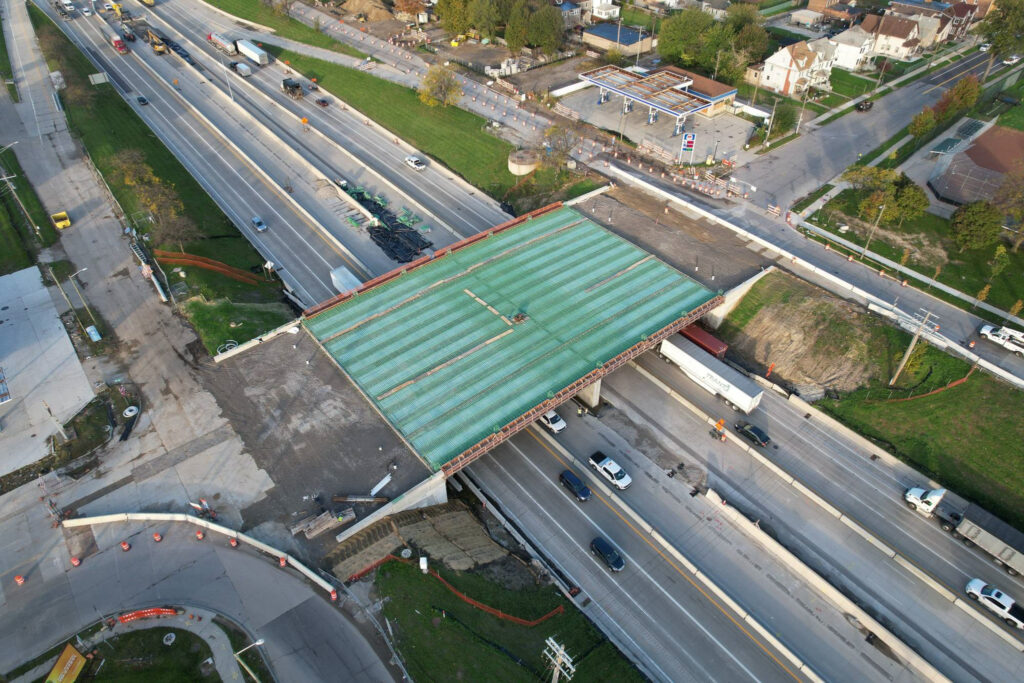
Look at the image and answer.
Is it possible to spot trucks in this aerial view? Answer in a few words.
Yes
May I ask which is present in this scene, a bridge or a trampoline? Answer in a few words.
bridge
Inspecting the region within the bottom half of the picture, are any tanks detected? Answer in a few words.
No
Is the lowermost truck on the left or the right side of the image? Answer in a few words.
right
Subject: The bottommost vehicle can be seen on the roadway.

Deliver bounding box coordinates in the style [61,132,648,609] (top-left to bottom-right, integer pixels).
[961,575,1024,633]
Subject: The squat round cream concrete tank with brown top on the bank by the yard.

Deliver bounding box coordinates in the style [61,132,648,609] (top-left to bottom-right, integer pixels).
[509,150,537,179]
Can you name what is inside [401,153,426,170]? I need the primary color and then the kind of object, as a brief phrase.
white vehicle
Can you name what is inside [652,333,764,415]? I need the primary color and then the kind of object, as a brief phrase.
white truck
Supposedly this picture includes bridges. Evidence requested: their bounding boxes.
[300,199,729,482]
